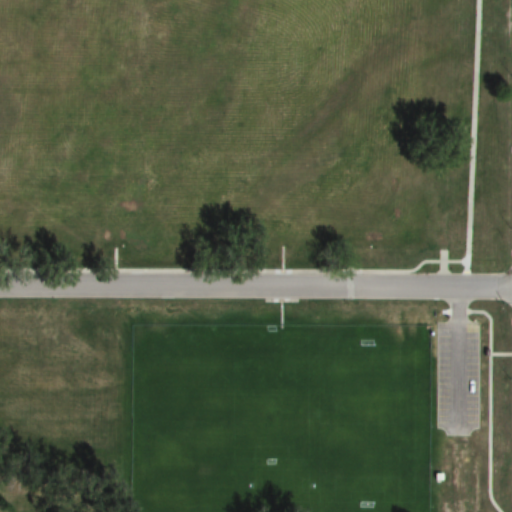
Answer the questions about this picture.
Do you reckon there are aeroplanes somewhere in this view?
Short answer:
No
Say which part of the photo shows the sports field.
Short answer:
bottom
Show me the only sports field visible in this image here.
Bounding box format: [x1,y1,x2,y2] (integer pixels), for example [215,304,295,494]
[134,324,432,512]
